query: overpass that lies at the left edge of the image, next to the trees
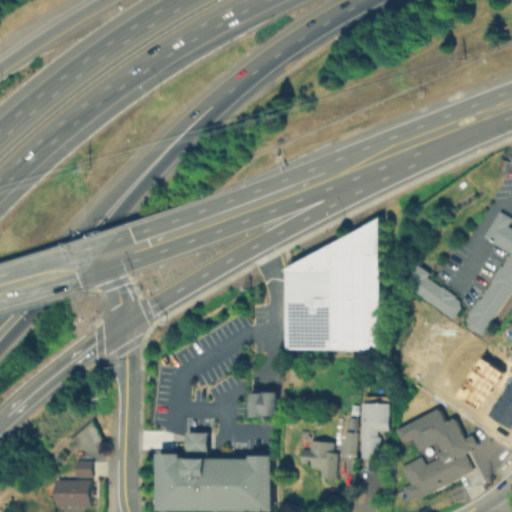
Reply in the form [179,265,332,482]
[0,218,146,315]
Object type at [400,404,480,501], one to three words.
building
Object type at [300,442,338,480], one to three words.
house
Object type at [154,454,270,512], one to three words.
building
